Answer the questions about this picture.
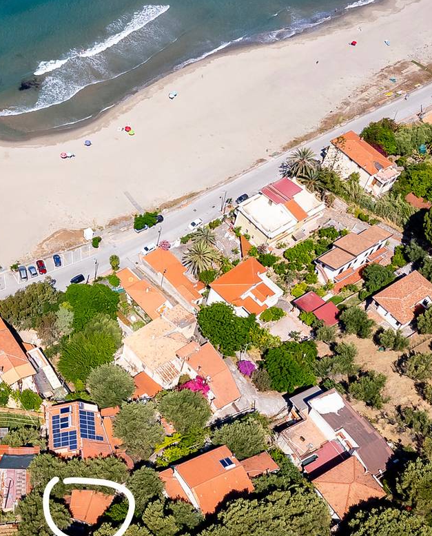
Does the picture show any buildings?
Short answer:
Yes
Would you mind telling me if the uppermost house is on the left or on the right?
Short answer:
right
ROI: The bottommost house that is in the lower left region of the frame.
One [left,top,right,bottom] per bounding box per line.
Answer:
[65,490,114,528]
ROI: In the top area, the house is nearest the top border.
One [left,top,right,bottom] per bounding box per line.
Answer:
[326,130,401,192]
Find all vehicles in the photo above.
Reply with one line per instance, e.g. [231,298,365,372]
[139,242,157,255]
[150,214,168,226]
[36,260,48,276]
[233,194,250,204]
[26,264,39,279]
[16,266,29,281]
[51,255,62,269]
[134,224,152,235]
[186,218,205,230]
[68,274,86,285]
